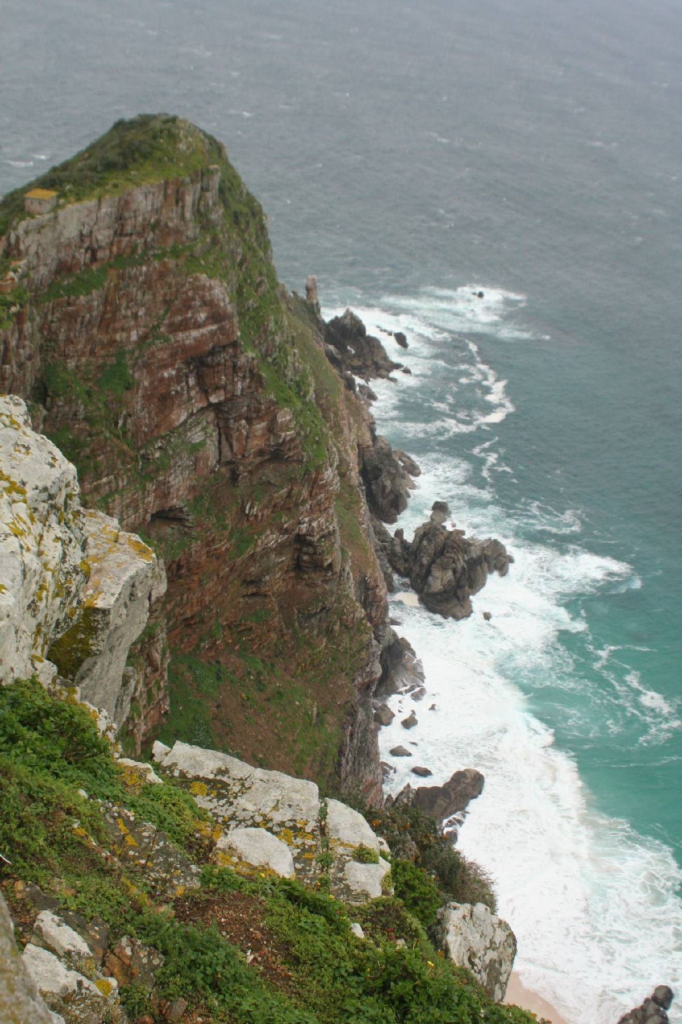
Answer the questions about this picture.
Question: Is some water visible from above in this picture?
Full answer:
Yes, water can be seen from above here.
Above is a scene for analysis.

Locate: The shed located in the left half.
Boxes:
[26,190,61,222]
